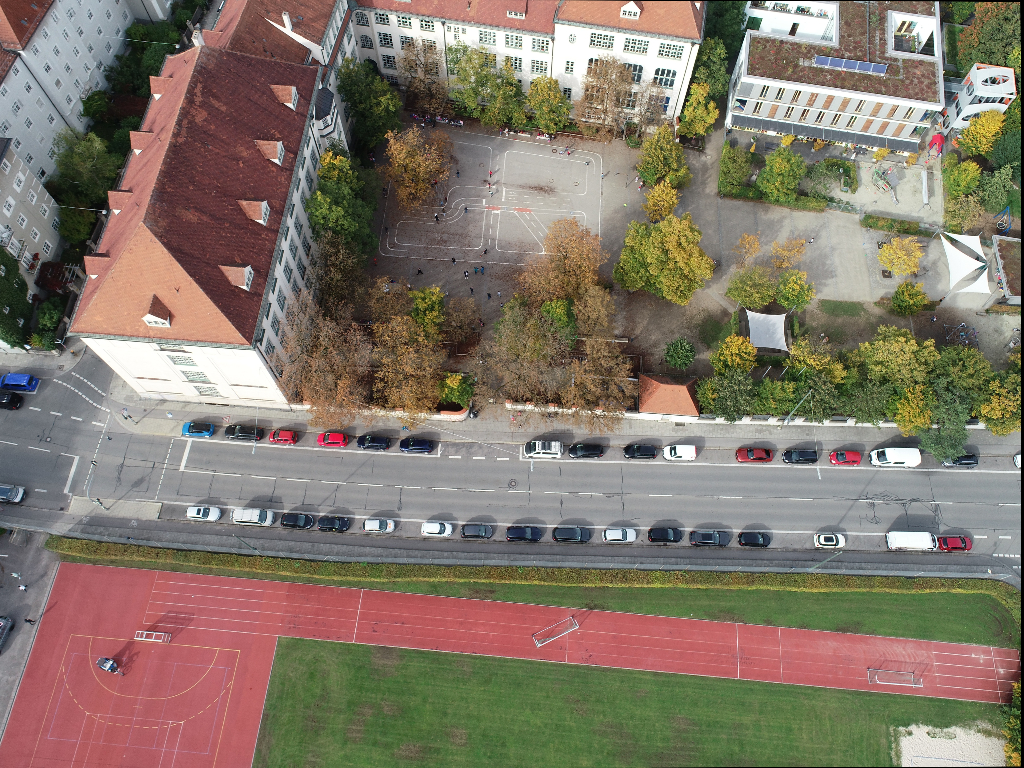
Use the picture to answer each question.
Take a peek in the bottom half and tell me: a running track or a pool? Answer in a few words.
running track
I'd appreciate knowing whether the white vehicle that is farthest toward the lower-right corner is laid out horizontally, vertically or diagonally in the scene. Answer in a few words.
horizontally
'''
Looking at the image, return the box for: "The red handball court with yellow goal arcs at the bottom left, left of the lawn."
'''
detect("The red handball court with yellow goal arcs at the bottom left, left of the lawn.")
[0,561,277,768]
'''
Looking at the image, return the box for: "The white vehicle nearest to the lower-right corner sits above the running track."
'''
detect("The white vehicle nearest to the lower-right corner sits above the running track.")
[885,531,936,552]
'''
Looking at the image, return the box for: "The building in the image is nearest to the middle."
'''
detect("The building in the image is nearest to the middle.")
[638,370,700,425]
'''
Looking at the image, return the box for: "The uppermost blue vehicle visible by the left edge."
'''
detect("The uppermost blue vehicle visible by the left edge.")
[0,373,39,394]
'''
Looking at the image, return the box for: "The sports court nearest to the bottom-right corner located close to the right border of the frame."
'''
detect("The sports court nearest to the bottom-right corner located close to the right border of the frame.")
[889,721,1011,768]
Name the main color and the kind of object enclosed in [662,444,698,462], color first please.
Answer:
white vehicle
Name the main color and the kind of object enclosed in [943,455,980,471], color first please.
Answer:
gray car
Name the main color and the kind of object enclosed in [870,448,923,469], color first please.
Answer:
white vehicle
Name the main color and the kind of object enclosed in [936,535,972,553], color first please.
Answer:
red car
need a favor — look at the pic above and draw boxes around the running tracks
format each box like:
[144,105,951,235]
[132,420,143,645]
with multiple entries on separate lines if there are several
[144,570,1018,704]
